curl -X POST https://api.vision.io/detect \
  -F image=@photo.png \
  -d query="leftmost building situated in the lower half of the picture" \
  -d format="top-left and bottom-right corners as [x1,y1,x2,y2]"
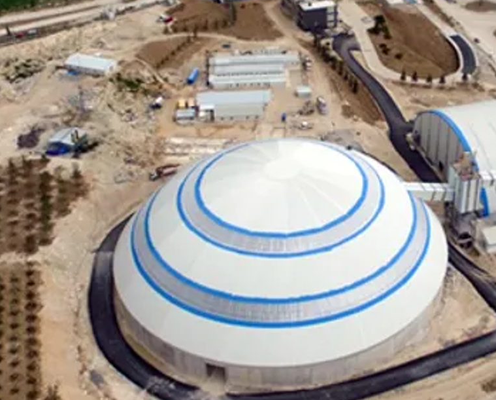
[110,134,448,387]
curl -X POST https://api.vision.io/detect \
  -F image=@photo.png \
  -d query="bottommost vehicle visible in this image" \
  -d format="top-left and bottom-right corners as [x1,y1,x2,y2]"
[152,164,180,178]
